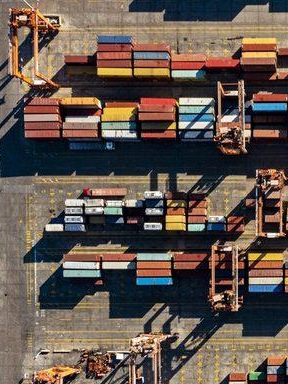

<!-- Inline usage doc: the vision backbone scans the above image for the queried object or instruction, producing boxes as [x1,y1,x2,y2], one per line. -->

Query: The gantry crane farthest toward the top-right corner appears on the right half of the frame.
[214,80,263,166]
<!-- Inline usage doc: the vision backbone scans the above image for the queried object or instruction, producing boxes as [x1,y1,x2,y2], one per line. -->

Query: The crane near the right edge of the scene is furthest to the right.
[252,167,288,246]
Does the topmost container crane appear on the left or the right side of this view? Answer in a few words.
left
